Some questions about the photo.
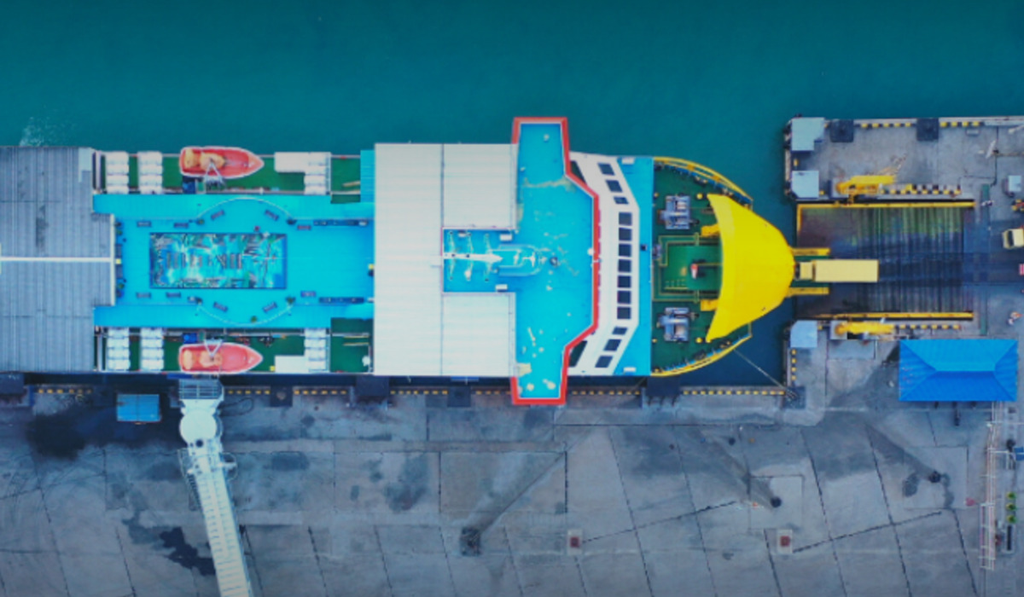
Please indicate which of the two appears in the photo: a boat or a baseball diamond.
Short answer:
boat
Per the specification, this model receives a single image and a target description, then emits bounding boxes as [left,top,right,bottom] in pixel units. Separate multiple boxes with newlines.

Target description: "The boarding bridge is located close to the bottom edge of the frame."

[178,379,265,597]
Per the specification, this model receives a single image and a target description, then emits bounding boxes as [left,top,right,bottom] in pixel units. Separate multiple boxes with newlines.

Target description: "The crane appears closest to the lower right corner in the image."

[827,319,894,339]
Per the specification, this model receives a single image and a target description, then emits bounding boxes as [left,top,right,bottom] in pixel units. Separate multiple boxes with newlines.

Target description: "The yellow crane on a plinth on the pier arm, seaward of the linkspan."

[827,175,895,204]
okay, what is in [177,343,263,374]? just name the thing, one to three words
boat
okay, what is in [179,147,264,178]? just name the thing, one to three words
boat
